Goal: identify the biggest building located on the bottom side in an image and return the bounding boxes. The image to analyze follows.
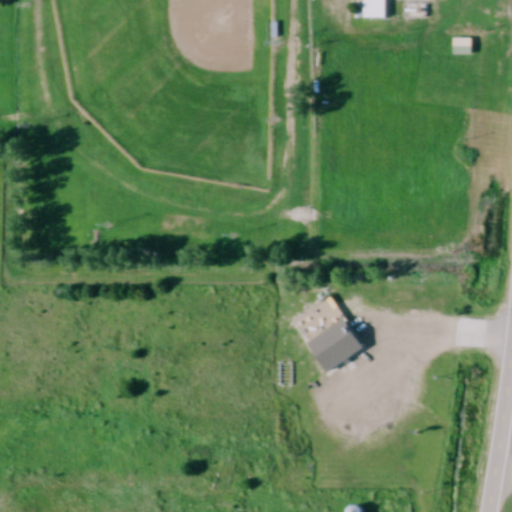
[308,320,363,370]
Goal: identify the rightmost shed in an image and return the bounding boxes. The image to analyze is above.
[453,36,473,54]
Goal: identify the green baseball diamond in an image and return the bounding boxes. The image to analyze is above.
[52,0,284,190]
